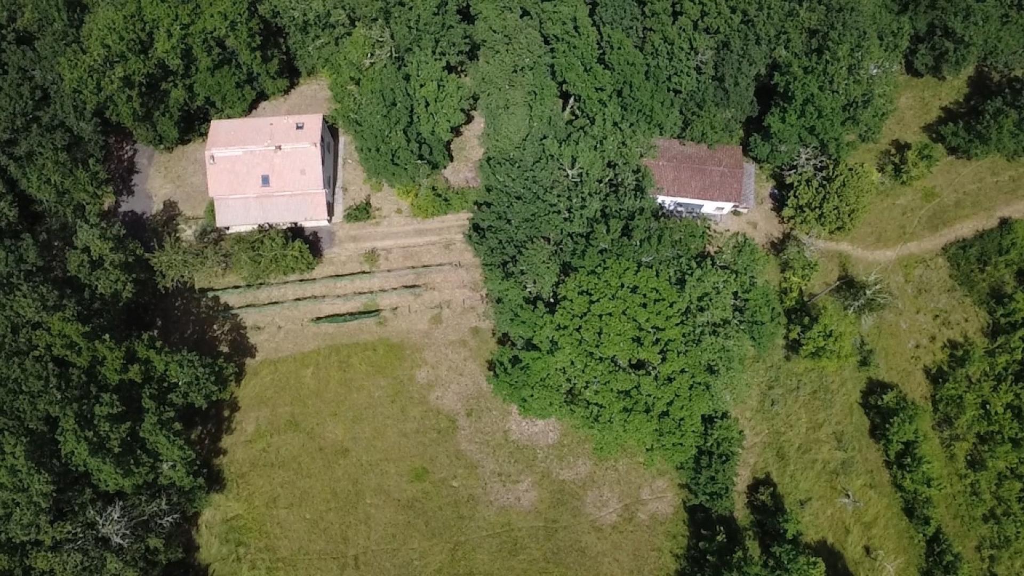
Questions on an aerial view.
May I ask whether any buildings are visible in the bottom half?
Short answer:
No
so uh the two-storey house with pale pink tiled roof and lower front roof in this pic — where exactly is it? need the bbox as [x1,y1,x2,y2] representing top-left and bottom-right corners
[203,113,333,231]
